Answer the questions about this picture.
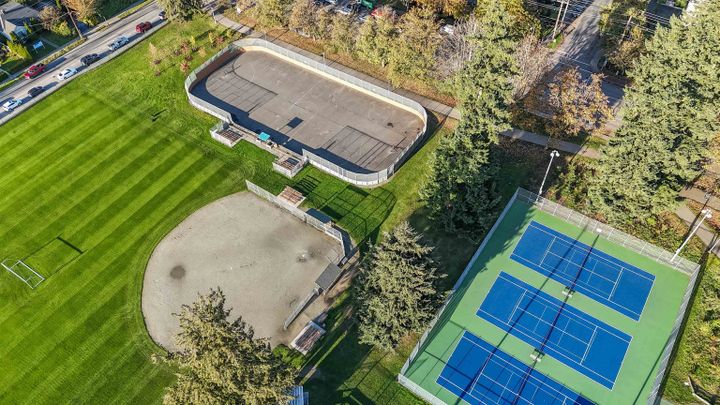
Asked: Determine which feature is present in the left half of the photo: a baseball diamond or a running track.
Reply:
baseball diamond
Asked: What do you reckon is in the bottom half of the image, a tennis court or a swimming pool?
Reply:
tennis court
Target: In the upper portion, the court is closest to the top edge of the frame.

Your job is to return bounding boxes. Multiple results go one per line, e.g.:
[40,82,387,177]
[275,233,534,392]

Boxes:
[181,37,430,186]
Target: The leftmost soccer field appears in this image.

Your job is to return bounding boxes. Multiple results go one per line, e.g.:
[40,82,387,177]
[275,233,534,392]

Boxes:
[0,84,233,405]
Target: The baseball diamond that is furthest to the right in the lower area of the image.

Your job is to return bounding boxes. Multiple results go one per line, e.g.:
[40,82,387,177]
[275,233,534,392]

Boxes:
[136,190,346,366]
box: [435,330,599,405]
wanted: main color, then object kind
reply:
blue tennis court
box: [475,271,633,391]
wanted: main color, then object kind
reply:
blue tennis court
